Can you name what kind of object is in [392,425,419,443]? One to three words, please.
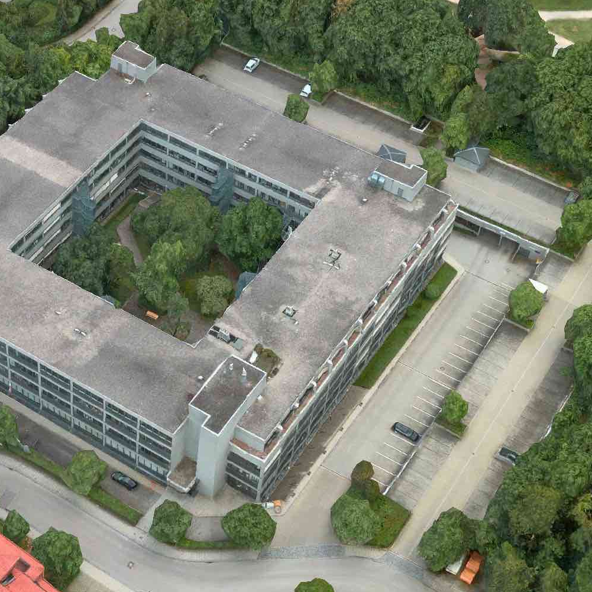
car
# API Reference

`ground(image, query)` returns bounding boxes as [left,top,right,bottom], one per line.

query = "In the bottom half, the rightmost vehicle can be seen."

[499,446,523,465]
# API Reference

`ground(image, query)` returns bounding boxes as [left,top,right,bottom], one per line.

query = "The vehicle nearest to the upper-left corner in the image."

[243,59,261,74]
